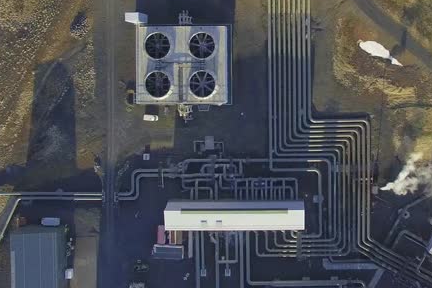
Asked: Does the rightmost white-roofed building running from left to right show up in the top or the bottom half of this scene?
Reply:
bottom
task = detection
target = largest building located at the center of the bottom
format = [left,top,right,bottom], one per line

[165,202,304,231]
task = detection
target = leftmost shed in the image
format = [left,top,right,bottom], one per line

[12,225,67,288]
